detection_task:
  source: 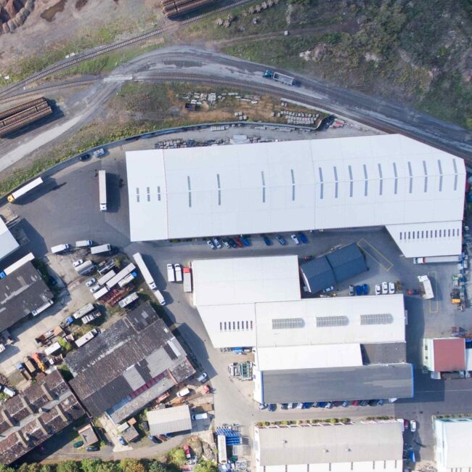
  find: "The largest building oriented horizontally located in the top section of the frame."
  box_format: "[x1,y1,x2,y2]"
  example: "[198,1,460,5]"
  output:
[162,134,467,240]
